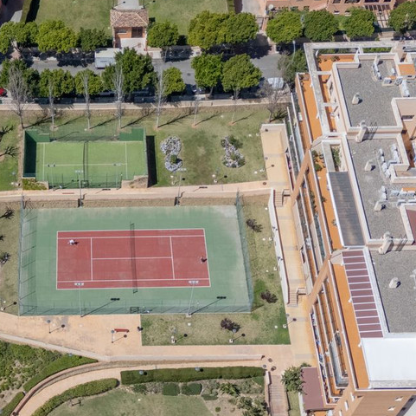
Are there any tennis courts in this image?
Yes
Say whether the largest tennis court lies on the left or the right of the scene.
left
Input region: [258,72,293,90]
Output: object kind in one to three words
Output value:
vehicle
